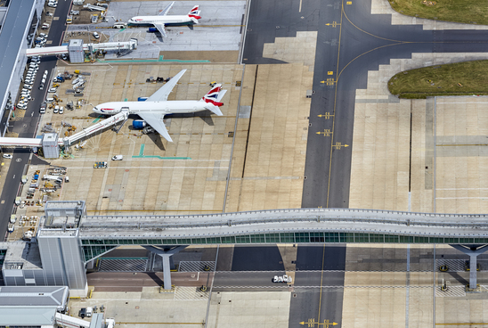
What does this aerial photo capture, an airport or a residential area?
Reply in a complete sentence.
This looks like an airport.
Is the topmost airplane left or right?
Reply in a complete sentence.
The topmost airplane appears in the left half of the scene.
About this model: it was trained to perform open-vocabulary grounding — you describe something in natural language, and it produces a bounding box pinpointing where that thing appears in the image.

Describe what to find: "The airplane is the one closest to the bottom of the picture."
[93,72,226,139]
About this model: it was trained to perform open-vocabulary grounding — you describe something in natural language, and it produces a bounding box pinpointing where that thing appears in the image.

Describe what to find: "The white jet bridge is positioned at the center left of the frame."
[63,107,134,156]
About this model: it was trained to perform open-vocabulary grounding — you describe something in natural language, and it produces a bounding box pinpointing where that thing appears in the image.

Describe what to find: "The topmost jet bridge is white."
[88,38,139,60]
